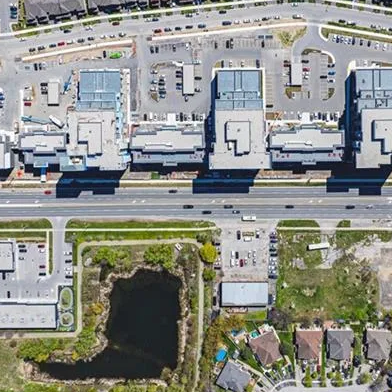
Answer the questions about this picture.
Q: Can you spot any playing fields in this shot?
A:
No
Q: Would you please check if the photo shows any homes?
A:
Yes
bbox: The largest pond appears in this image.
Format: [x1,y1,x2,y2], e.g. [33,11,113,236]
[38,269,181,380]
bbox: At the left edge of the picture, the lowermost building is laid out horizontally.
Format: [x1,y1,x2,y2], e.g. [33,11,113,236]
[0,301,59,329]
